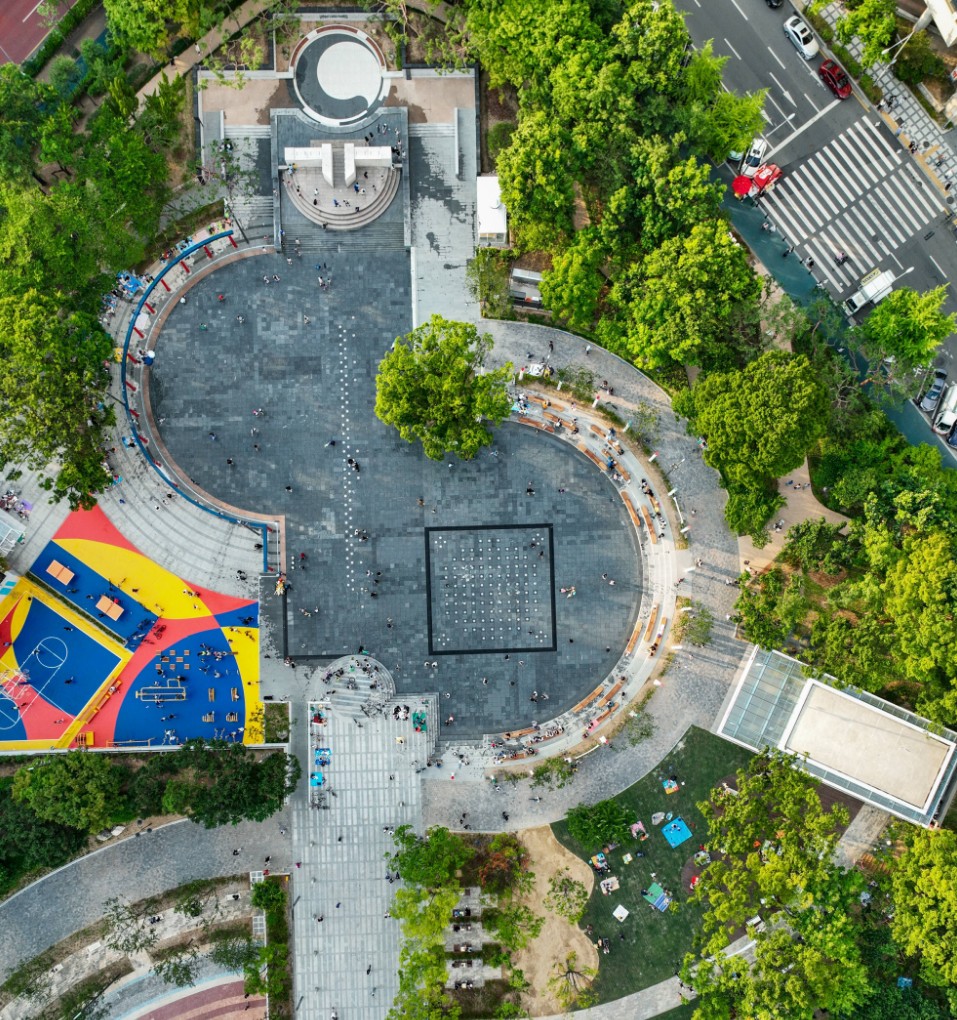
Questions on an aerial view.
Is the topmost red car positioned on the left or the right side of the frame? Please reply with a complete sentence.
The topmost red car appears in the right half of the scene.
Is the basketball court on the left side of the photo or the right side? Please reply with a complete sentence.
The basketball court appears in the left half of the scene.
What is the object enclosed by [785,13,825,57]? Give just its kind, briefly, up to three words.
car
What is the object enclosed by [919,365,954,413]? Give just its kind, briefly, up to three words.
car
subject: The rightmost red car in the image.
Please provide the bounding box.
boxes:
[819,56,856,98]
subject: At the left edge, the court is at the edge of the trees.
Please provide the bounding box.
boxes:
[0,575,132,751]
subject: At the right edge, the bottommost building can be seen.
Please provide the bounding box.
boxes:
[709,645,957,829]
